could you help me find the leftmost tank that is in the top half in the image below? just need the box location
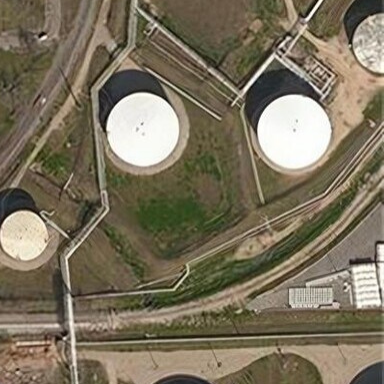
[105,91,181,167]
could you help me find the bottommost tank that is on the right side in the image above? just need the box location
[256,94,334,170]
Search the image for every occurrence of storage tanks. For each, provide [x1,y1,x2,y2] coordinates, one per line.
[351,12,384,76]
[256,94,334,170]
[0,208,50,261]
[105,91,181,167]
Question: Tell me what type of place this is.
industrial area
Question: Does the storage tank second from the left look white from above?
Yes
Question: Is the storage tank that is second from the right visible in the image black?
No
